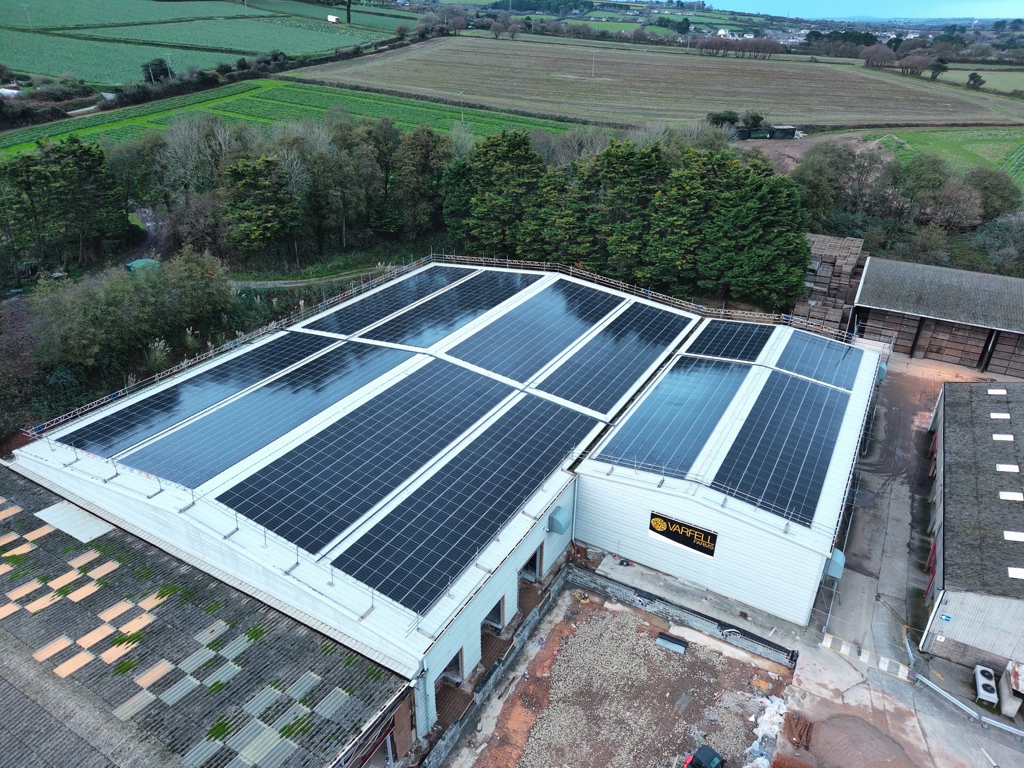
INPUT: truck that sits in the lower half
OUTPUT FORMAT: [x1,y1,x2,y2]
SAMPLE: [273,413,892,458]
[686,746,730,768]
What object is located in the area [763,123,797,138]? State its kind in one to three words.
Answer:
shed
